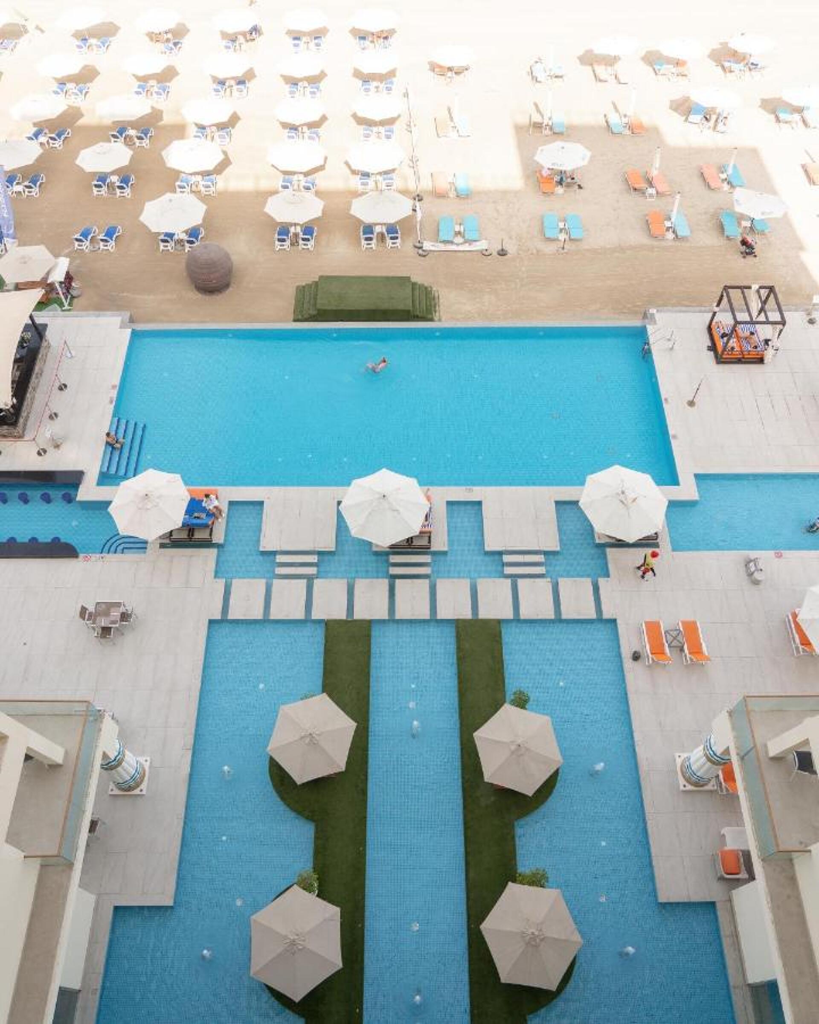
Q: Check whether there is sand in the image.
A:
Yes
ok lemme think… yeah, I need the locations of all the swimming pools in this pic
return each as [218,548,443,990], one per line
[99,328,678,487]
[98,501,734,1024]
[0,471,151,554]
[660,474,819,551]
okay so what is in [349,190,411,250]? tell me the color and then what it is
white umbrella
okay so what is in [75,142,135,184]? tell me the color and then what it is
white umbrella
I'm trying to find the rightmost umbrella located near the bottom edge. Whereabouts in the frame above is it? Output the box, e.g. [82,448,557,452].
[478,887,584,990]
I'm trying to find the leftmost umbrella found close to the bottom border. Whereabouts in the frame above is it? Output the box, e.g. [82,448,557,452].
[247,887,344,1004]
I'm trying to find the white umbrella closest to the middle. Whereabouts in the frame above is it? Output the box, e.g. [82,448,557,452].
[339,468,429,546]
